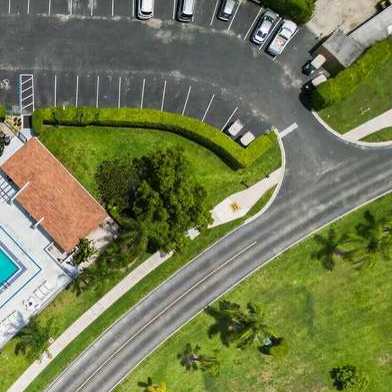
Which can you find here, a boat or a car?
car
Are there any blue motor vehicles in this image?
No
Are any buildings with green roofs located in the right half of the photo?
No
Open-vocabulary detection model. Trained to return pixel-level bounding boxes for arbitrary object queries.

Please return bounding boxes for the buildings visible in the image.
[2,136,109,253]
[312,0,392,74]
